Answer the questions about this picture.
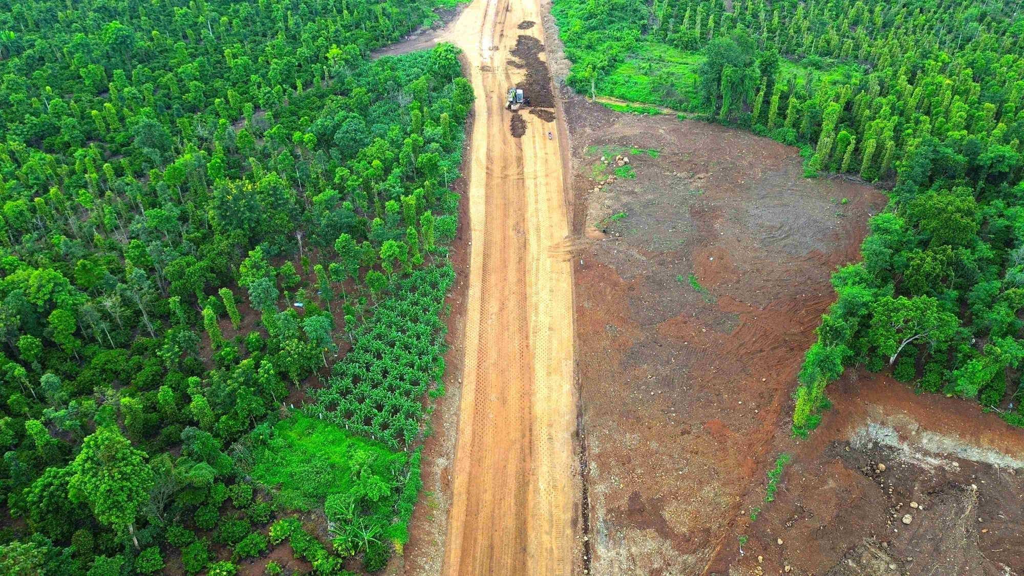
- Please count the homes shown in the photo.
zero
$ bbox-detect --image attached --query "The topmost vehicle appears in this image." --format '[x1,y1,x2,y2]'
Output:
[507,81,523,108]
